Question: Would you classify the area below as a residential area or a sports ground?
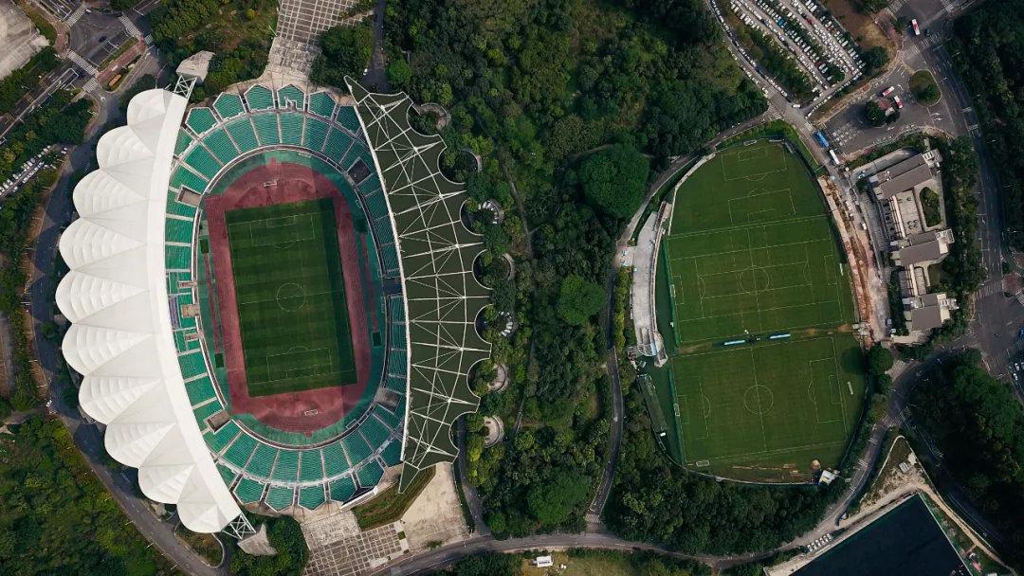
sports ground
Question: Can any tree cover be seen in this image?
Yes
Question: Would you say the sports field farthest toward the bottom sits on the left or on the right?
right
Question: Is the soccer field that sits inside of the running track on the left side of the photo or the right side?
left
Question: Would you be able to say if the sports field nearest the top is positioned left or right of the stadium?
to its right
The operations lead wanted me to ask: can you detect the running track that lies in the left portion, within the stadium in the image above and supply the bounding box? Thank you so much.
[196,149,384,444]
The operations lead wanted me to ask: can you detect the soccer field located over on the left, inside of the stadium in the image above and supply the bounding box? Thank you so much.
[225,196,358,397]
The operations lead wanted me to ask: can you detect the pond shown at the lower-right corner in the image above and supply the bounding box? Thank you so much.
[783,493,973,576]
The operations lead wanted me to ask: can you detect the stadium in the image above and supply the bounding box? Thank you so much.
[53,50,495,557]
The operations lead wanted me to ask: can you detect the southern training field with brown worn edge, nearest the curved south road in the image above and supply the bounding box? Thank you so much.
[671,335,849,464]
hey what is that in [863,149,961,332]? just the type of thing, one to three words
building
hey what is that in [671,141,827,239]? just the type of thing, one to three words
sports field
